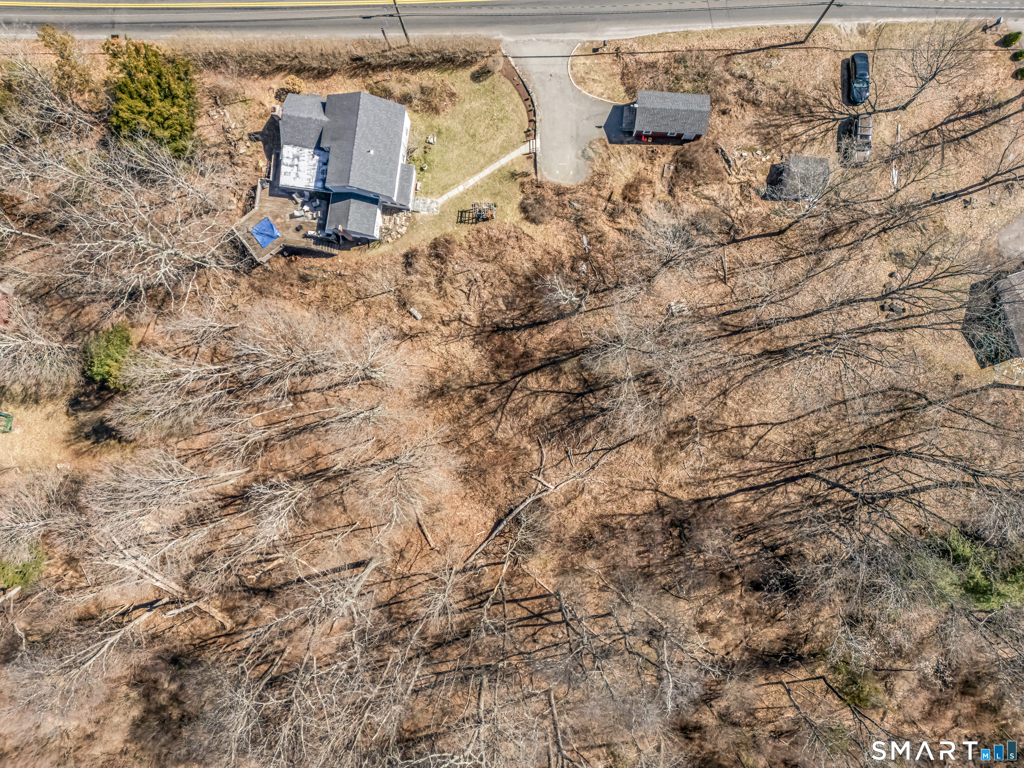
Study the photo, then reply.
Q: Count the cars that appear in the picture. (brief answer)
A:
two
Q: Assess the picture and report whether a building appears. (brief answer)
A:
Yes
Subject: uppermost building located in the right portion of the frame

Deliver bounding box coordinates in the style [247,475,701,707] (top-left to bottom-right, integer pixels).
[619,91,713,144]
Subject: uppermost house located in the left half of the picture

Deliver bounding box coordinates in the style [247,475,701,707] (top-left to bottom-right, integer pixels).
[270,89,417,243]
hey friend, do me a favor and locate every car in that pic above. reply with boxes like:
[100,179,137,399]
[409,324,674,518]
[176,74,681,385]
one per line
[847,115,876,168]
[845,53,874,107]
